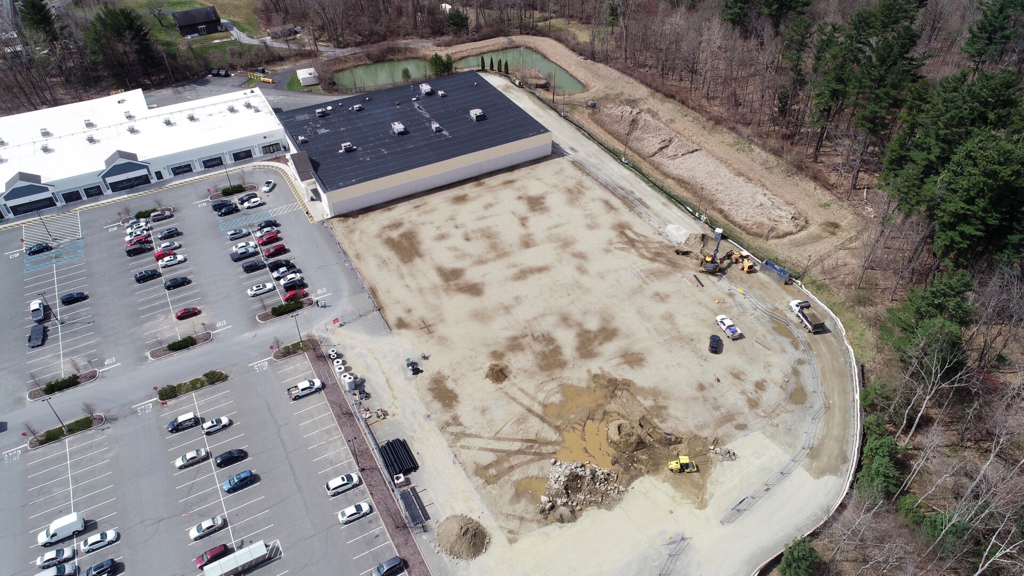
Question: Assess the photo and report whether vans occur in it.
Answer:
Yes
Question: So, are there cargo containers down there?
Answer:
Yes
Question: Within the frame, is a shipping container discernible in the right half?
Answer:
Yes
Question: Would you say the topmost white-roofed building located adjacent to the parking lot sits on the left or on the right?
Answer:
left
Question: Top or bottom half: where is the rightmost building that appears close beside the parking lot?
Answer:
top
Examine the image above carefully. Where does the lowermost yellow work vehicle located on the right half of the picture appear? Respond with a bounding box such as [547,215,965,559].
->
[663,453,700,475]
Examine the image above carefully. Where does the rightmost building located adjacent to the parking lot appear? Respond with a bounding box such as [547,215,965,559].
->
[279,68,552,217]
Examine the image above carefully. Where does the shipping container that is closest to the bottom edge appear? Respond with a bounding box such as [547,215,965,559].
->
[758,259,791,285]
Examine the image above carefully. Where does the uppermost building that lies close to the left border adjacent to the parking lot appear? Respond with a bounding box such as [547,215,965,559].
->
[0,86,290,219]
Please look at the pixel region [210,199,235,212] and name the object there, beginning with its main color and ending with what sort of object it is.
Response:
black vehicle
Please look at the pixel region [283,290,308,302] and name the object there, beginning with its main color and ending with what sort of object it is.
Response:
red vehicle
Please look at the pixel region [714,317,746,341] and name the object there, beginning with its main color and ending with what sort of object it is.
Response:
white truck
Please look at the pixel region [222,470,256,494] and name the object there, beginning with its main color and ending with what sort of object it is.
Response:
blue car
